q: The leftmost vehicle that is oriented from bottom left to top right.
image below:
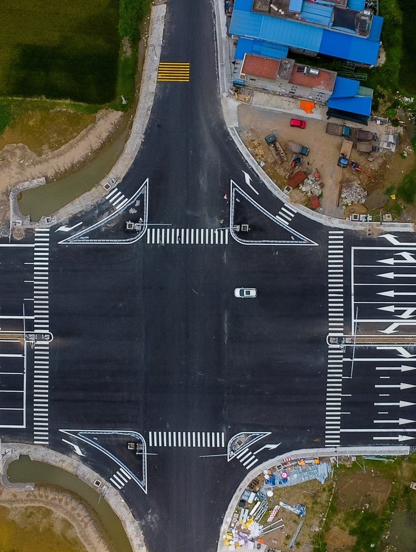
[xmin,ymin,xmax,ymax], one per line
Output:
[282,152,305,177]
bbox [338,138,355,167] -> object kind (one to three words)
vehicle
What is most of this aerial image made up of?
paved ground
